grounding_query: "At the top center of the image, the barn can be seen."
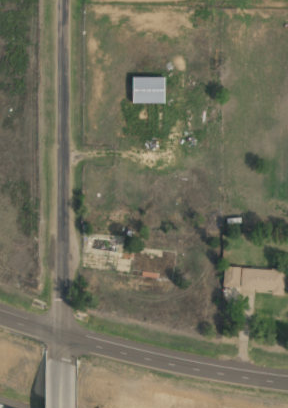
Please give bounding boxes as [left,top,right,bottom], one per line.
[132,76,165,104]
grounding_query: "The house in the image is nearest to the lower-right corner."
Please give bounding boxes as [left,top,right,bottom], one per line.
[223,266,284,296]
